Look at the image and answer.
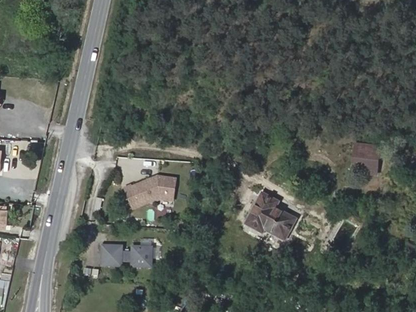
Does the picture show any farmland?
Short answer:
No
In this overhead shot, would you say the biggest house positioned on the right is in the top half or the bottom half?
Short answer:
bottom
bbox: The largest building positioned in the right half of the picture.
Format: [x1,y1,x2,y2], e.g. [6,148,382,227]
[241,186,302,252]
